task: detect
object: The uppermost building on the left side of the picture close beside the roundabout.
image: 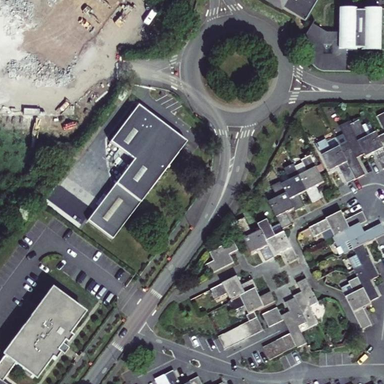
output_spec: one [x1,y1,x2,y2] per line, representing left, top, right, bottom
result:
[48,104,188,242]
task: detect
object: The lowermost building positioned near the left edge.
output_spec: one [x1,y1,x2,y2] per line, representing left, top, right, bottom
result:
[0,286,88,381]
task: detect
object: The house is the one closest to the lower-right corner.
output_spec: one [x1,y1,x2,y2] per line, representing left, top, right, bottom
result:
[346,288,372,330]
